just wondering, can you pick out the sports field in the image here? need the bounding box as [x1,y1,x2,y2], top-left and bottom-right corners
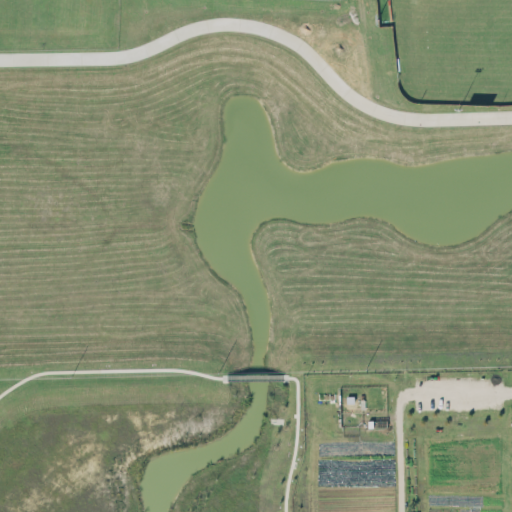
[380,0,512,105]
